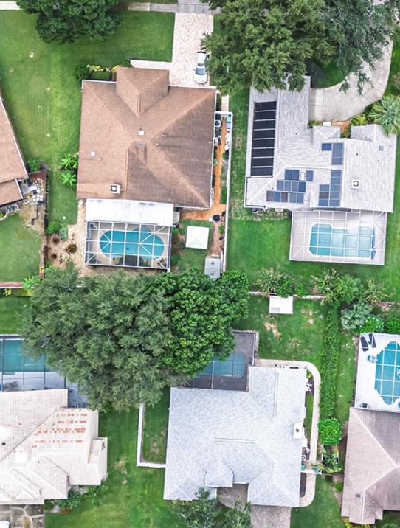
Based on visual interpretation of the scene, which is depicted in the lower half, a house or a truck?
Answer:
house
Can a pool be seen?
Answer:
Yes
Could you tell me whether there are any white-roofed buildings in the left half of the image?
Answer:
Yes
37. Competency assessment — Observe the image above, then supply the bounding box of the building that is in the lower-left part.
[0,389,111,505]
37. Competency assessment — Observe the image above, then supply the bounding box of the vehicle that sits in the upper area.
[193,48,210,85]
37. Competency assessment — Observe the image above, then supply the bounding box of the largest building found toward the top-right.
[244,73,397,212]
